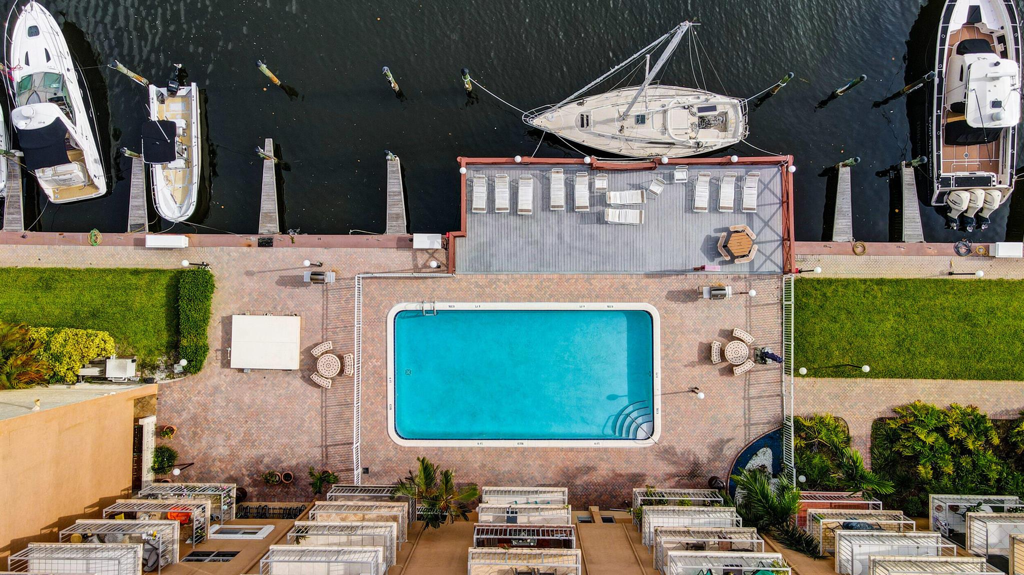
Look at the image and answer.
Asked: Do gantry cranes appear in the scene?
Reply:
No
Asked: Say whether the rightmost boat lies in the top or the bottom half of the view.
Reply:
top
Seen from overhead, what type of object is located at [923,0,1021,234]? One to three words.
boat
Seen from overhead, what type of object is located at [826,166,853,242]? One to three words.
pier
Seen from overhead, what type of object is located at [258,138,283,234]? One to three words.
pier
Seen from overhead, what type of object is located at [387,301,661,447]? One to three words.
swimming pool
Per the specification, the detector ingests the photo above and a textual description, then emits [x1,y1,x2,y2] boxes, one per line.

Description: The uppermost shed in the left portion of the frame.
[225,312,304,371]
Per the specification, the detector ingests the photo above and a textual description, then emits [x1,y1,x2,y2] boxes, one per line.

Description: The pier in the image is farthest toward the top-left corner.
[2,150,34,231]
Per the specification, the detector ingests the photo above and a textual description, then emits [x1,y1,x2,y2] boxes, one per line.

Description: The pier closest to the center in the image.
[385,158,408,234]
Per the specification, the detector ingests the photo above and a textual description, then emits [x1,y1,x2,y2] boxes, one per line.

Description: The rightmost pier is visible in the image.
[894,167,925,242]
